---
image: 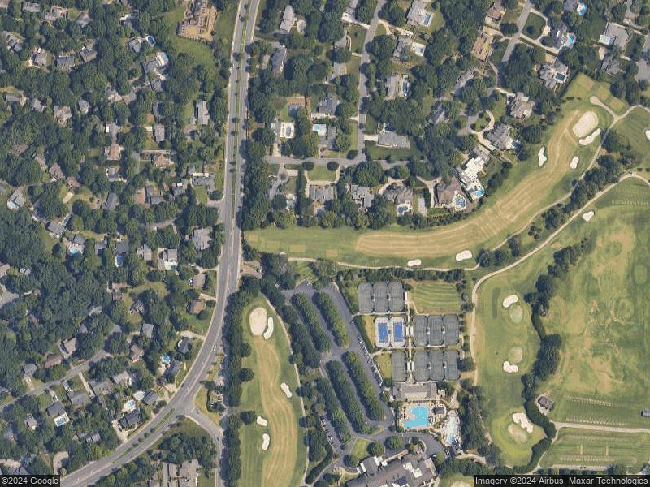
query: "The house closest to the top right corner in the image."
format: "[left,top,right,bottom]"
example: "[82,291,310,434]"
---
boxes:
[607,23,631,46]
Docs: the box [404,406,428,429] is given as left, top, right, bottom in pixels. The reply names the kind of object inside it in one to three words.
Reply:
swimming pool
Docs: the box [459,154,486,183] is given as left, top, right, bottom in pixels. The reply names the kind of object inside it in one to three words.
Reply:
house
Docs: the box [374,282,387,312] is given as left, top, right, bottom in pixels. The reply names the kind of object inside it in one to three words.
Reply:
tennis court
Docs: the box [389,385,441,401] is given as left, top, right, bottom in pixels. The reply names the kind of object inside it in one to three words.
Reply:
building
